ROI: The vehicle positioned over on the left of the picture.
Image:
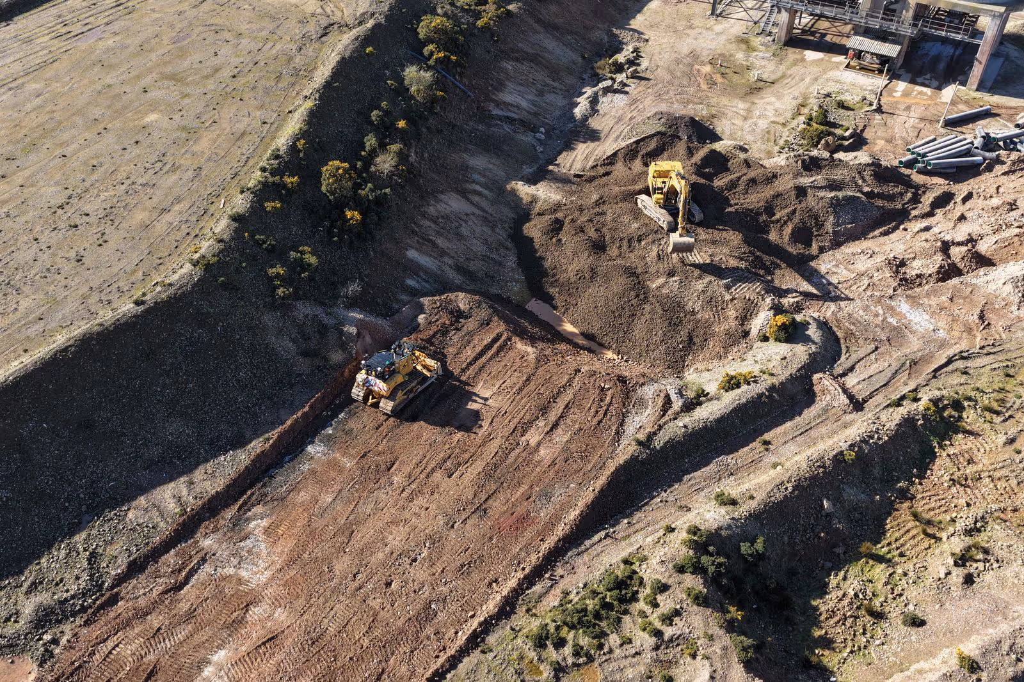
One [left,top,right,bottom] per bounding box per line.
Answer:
[357,337,450,414]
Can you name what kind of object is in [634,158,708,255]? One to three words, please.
work vehicle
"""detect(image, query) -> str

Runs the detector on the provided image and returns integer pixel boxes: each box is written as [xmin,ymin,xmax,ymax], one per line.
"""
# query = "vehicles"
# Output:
[357,337,450,414]
[634,158,708,255]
